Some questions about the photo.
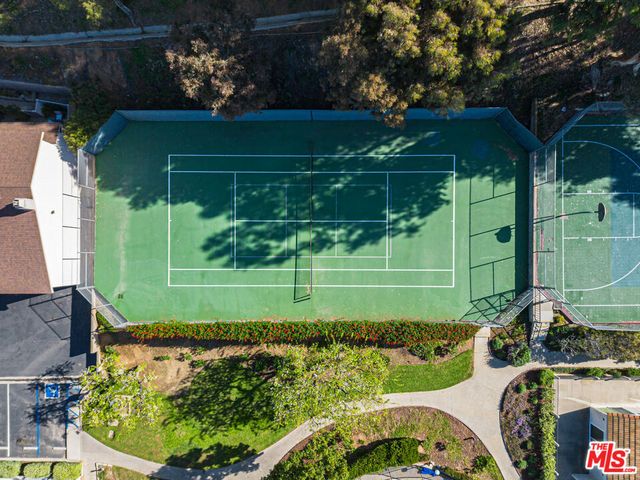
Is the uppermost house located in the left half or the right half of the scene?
left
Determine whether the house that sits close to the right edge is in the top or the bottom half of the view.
bottom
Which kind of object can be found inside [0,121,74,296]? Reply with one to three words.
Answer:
house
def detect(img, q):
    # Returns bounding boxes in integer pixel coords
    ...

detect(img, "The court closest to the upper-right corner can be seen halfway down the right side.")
[536,114,640,322]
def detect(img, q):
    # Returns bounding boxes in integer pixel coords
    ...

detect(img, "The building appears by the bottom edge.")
[566,407,640,480]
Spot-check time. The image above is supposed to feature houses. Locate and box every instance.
[0,121,74,296]
[566,407,640,480]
